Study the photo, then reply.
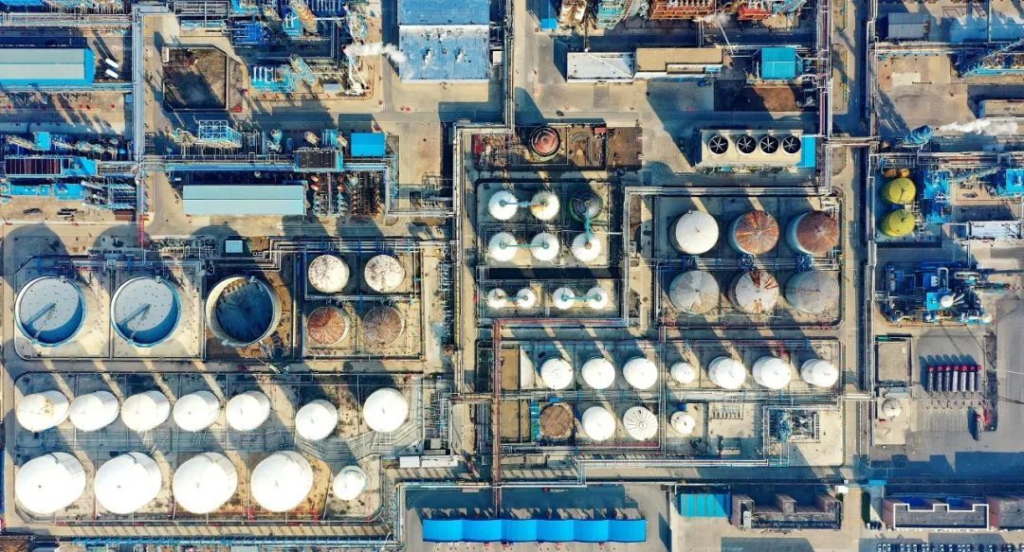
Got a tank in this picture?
Yes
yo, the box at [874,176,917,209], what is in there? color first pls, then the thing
yellow storage tank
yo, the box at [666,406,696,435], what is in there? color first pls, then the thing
white storage tank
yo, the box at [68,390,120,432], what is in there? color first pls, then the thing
white storage tank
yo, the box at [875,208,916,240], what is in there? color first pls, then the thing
yellow storage tank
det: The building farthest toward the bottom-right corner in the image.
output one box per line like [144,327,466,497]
[990,496,1024,528]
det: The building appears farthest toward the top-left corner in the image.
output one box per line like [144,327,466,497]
[0,46,93,85]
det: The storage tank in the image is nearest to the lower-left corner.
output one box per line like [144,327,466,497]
[13,452,87,515]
